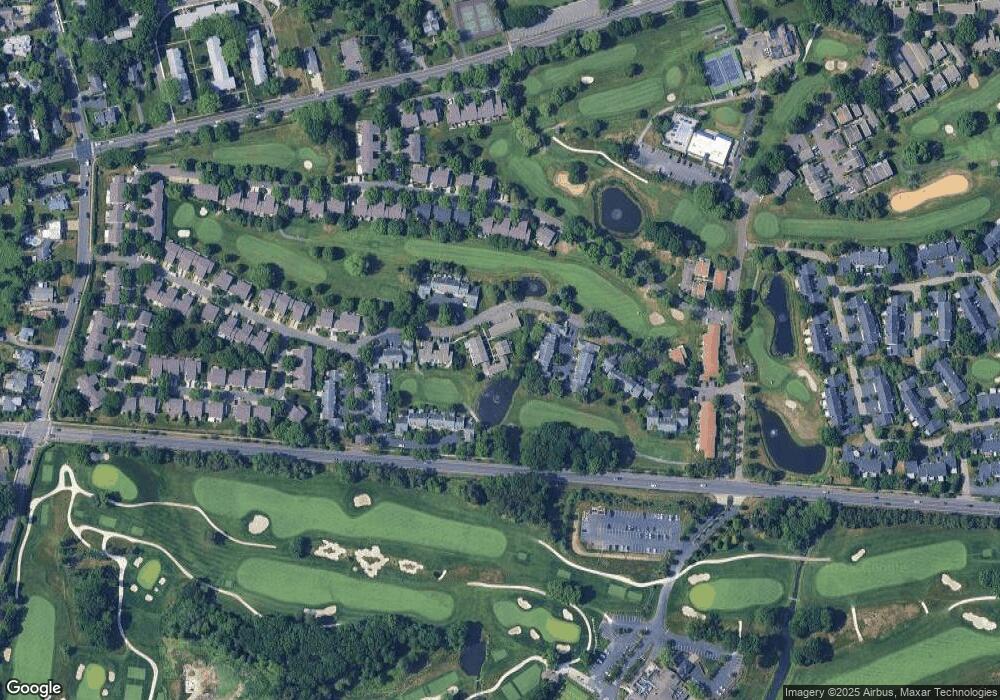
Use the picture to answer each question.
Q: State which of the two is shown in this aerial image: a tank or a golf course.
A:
golf course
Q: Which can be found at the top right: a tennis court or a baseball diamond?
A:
tennis court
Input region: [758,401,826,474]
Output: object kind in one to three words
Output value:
pond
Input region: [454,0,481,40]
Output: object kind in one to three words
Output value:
tennis court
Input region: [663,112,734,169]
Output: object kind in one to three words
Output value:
building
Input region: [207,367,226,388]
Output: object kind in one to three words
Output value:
house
